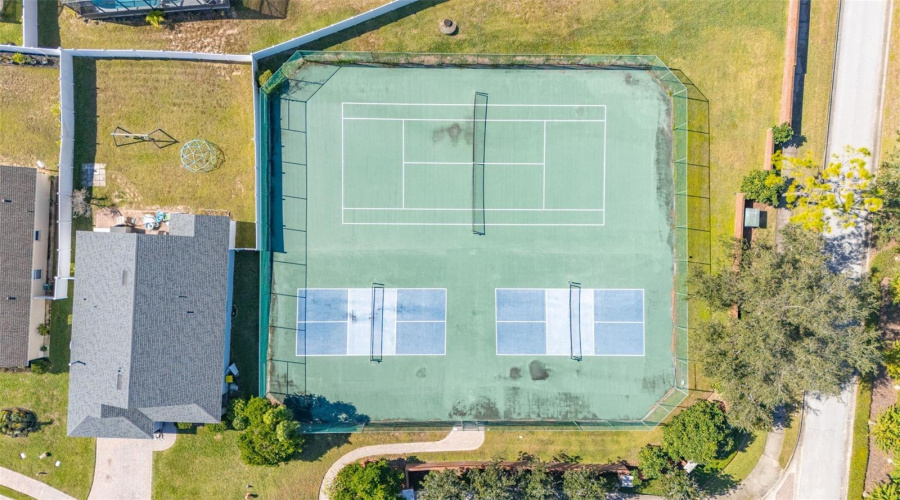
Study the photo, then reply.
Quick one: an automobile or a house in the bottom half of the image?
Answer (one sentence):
Looking in the bottom half of the image, you will find a house.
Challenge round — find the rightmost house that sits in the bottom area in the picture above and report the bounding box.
[66,214,237,438]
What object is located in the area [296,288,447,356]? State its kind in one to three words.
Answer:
sports court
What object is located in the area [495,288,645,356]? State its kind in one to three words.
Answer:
sports court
